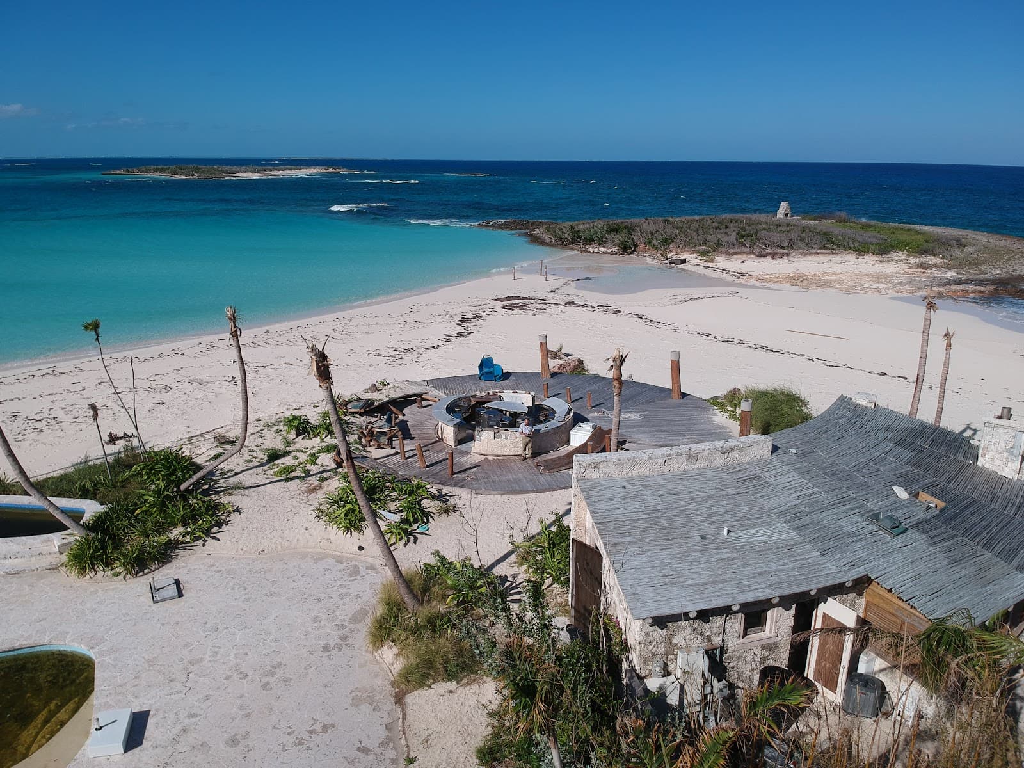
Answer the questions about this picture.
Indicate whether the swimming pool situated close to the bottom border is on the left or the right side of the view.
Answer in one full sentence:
The swimming pool situated close to the bottom border appears in the left half of the scene.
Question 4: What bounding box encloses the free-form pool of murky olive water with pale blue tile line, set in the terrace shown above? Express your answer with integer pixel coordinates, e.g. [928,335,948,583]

[0,646,96,768]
